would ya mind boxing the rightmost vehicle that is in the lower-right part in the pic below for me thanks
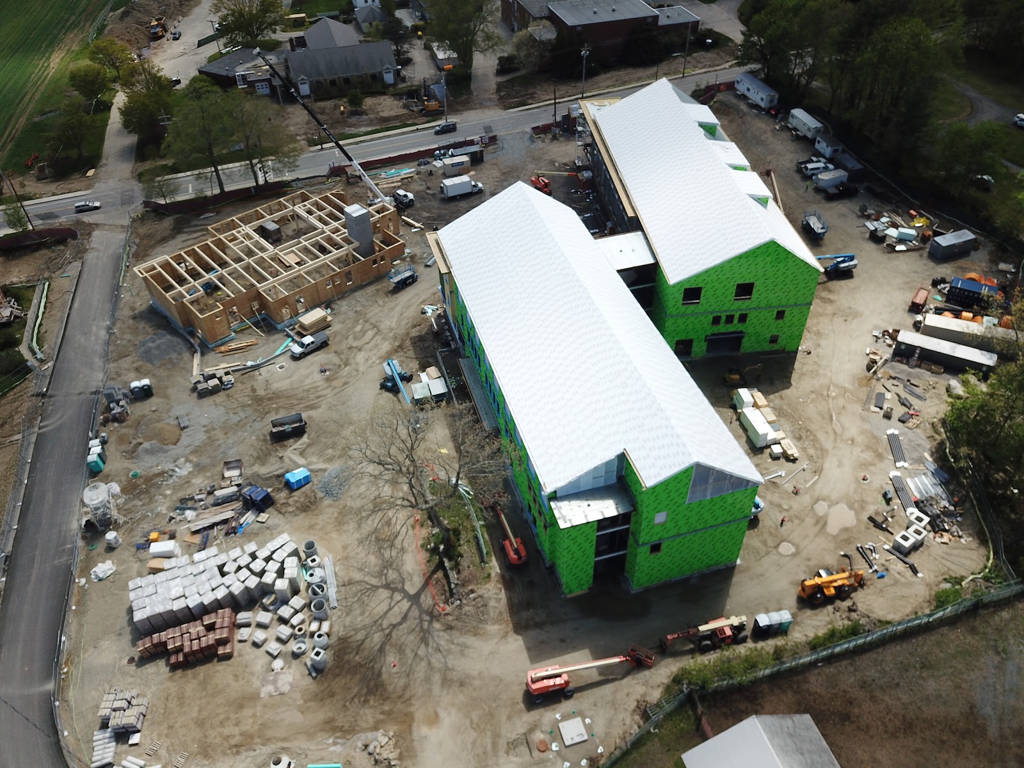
[807,562,875,602]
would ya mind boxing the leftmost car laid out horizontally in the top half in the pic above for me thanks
[70,199,102,212]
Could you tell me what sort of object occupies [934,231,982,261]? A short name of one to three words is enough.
shipping container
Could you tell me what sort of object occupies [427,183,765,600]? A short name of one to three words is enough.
building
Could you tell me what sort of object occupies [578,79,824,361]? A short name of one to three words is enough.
building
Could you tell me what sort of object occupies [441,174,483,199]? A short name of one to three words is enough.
truck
